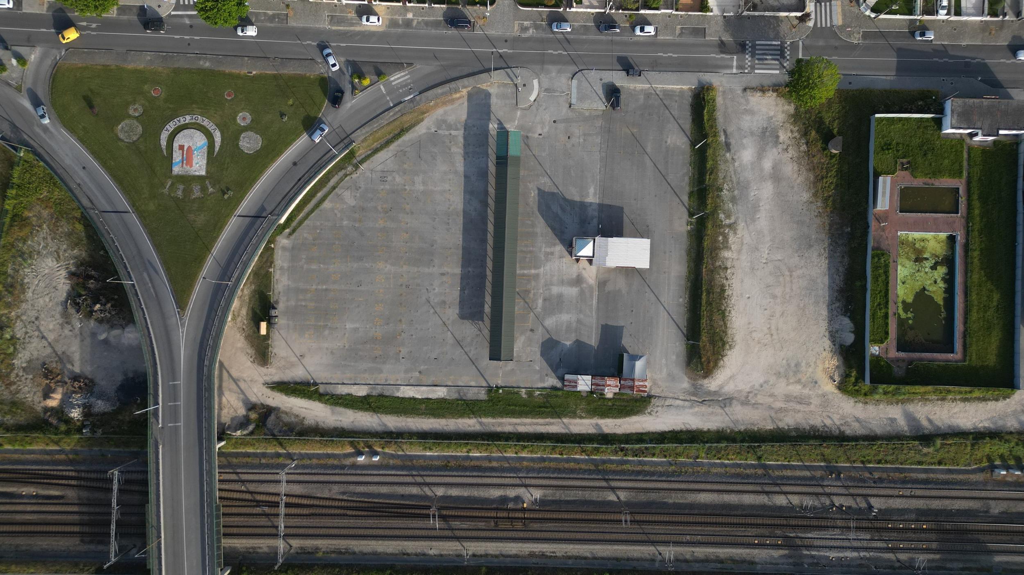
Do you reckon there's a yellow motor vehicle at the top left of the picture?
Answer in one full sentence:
Yes, you'll find a yellow motor vehicle at the top left of the picture.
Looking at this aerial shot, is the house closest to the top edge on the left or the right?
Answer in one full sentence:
It is on the right.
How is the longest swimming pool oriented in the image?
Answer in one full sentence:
The longest swimming pool is oriented vertically.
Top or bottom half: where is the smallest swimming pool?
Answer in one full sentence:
The smallest swimming pool is in the top half of the image.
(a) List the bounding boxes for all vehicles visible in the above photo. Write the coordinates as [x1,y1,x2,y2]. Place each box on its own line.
[323,47,337,71]
[236,23,257,35]
[0,0,12,8]
[361,13,381,24]
[57,24,79,43]
[599,21,620,32]
[447,16,471,28]
[309,122,329,143]
[552,20,572,31]
[143,19,166,31]
[1016,49,1024,58]
[33,103,48,123]
[330,88,342,109]
[915,28,936,40]
[634,25,656,35]
[611,87,622,110]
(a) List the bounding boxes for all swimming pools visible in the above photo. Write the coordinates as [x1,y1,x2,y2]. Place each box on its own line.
[896,233,957,354]
[898,185,960,214]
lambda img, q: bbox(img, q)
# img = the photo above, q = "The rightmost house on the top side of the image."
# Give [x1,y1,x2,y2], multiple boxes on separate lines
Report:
[934,99,1024,140]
